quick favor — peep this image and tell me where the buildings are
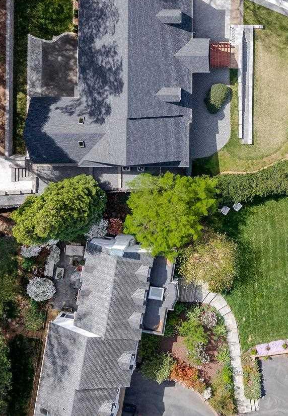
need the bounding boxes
[23,0,209,169]
[32,232,181,416]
